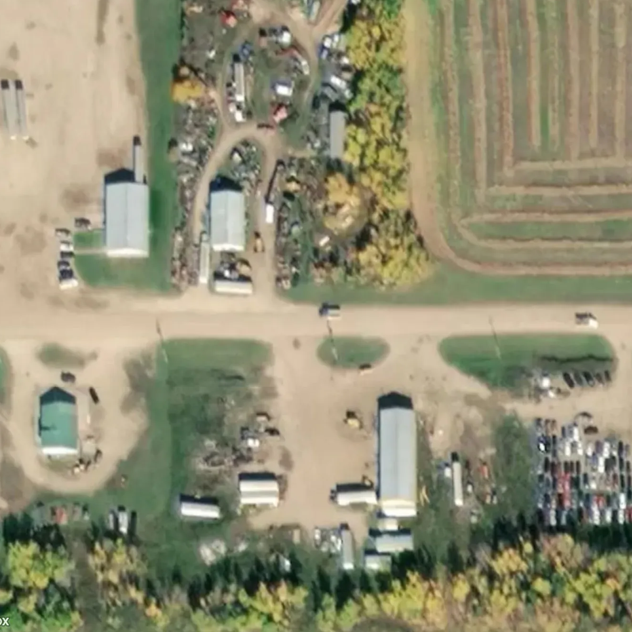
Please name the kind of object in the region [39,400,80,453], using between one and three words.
shed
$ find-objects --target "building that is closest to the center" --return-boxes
[214,279,253,292]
